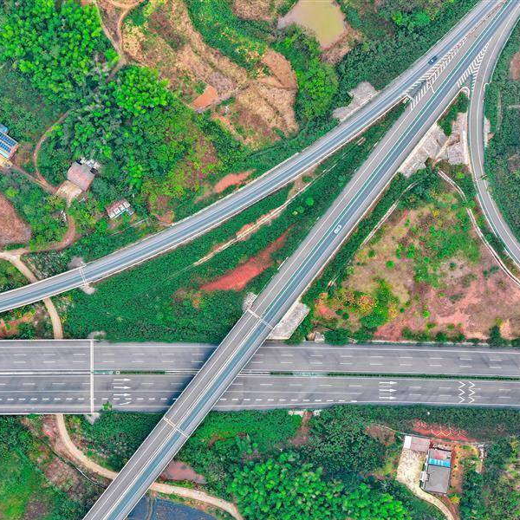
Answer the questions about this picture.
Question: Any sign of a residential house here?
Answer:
Yes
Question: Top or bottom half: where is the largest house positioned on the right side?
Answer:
bottom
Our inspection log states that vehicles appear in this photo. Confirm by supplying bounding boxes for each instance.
[334,224,341,234]
[429,54,439,63]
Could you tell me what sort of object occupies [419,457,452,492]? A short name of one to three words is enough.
house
